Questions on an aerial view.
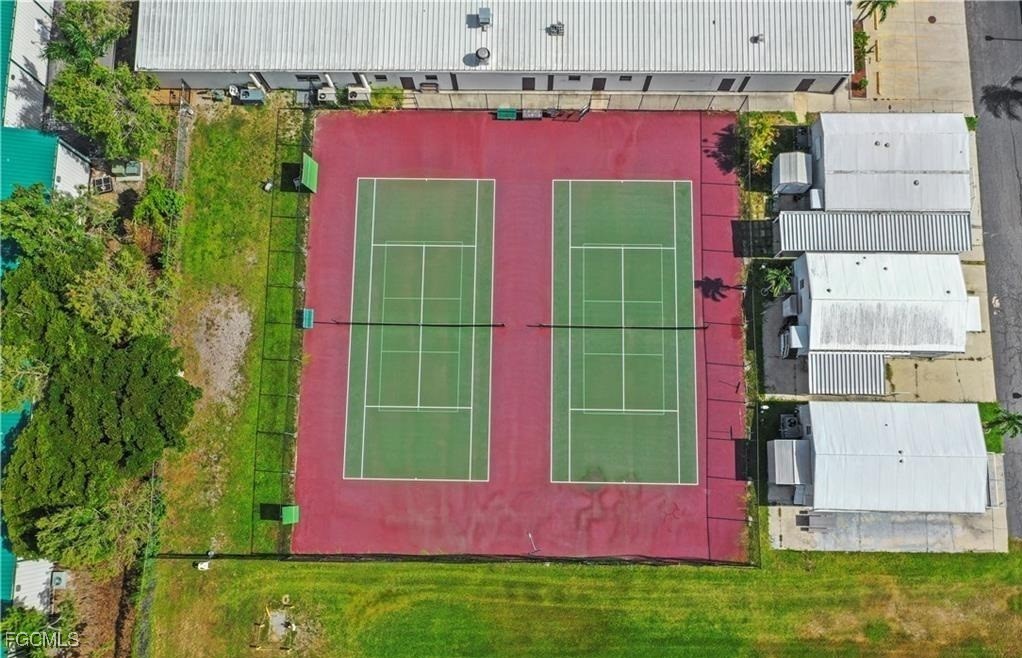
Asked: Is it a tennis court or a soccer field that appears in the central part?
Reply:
tennis court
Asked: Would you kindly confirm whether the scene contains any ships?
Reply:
No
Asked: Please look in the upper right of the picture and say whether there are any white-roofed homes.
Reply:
Yes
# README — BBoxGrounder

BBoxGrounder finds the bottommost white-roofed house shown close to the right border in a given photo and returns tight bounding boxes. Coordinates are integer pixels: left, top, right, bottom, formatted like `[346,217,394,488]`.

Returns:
[797,402,997,513]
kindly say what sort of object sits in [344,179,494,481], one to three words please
tennis court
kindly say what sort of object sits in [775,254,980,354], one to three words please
house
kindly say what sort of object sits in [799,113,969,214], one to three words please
house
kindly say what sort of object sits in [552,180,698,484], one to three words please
tennis court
